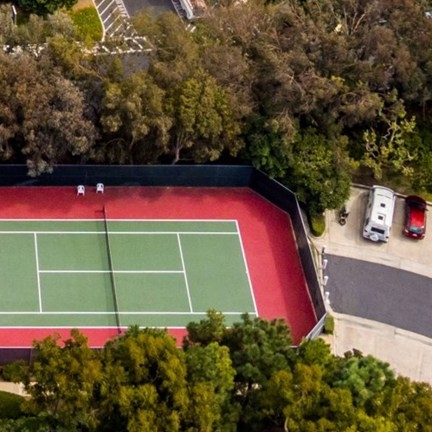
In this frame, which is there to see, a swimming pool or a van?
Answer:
van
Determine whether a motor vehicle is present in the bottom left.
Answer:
No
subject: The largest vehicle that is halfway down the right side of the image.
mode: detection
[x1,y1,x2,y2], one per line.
[361,186,397,242]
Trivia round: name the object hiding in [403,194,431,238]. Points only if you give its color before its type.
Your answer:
red car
